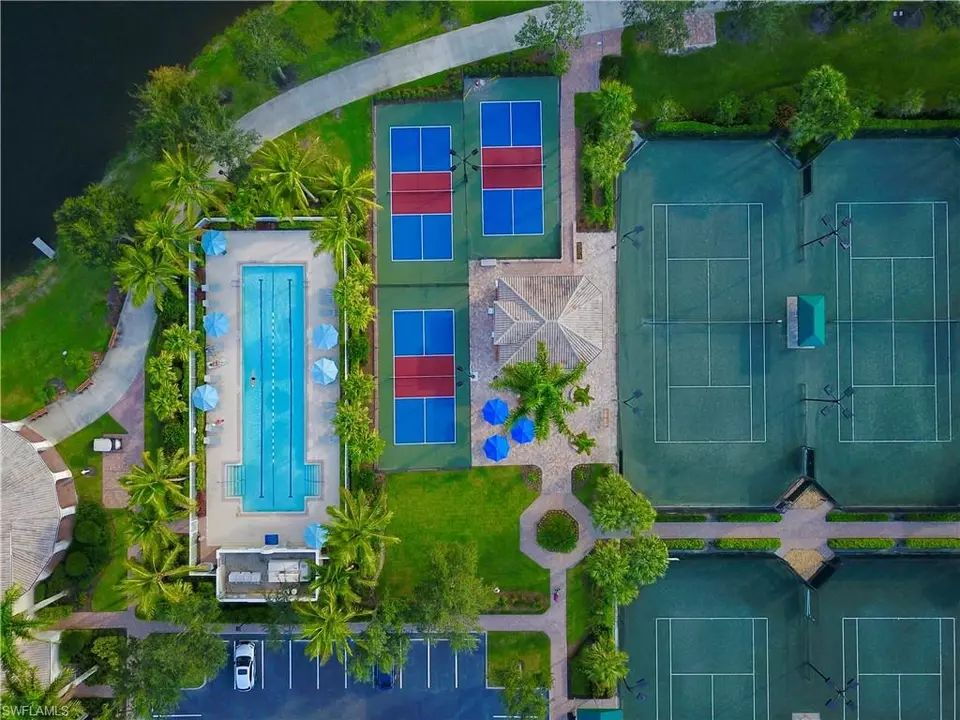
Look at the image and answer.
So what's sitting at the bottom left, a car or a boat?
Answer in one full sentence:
The feature located at the bottom left is a car.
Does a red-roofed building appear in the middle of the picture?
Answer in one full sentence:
No, there is no red-roofed building in the middle of the picture.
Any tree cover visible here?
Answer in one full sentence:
Yes, there's tree cover in this view.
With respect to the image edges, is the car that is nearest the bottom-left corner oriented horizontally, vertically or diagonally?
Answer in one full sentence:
The car that is nearest the bottom-left corner is laid out vertically.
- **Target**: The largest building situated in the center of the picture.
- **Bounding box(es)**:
[494,275,603,370]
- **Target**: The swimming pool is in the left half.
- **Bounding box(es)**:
[210,262,326,516]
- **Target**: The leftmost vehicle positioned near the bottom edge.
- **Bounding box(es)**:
[232,642,256,693]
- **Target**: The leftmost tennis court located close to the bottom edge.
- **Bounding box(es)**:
[617,558,808,720]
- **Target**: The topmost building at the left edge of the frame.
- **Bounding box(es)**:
[0,416,78,608]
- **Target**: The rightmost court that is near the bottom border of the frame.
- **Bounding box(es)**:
[808,556,960,720]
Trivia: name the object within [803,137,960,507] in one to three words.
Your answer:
tennis court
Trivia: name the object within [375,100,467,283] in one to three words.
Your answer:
sports court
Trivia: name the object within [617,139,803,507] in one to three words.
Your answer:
tennis court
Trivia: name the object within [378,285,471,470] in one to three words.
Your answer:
sports court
